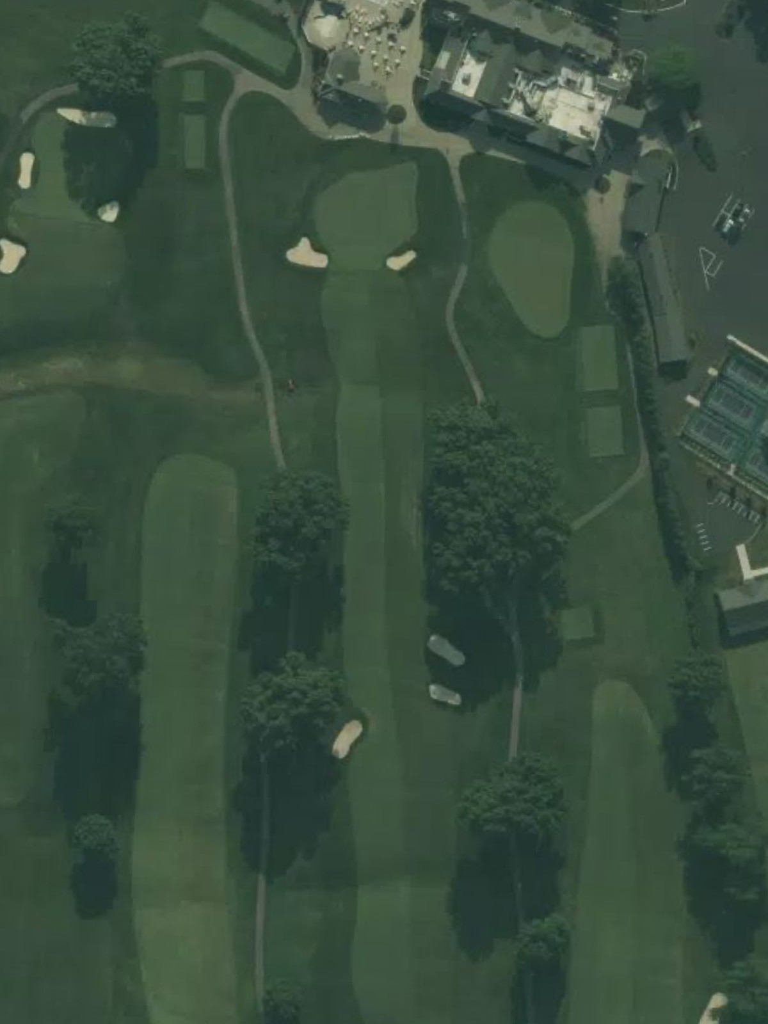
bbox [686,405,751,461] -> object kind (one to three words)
tennis court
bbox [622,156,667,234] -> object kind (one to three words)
building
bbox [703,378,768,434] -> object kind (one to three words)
tennis court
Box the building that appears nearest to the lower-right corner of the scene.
[720,583,768,630]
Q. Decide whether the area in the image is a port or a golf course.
golf course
